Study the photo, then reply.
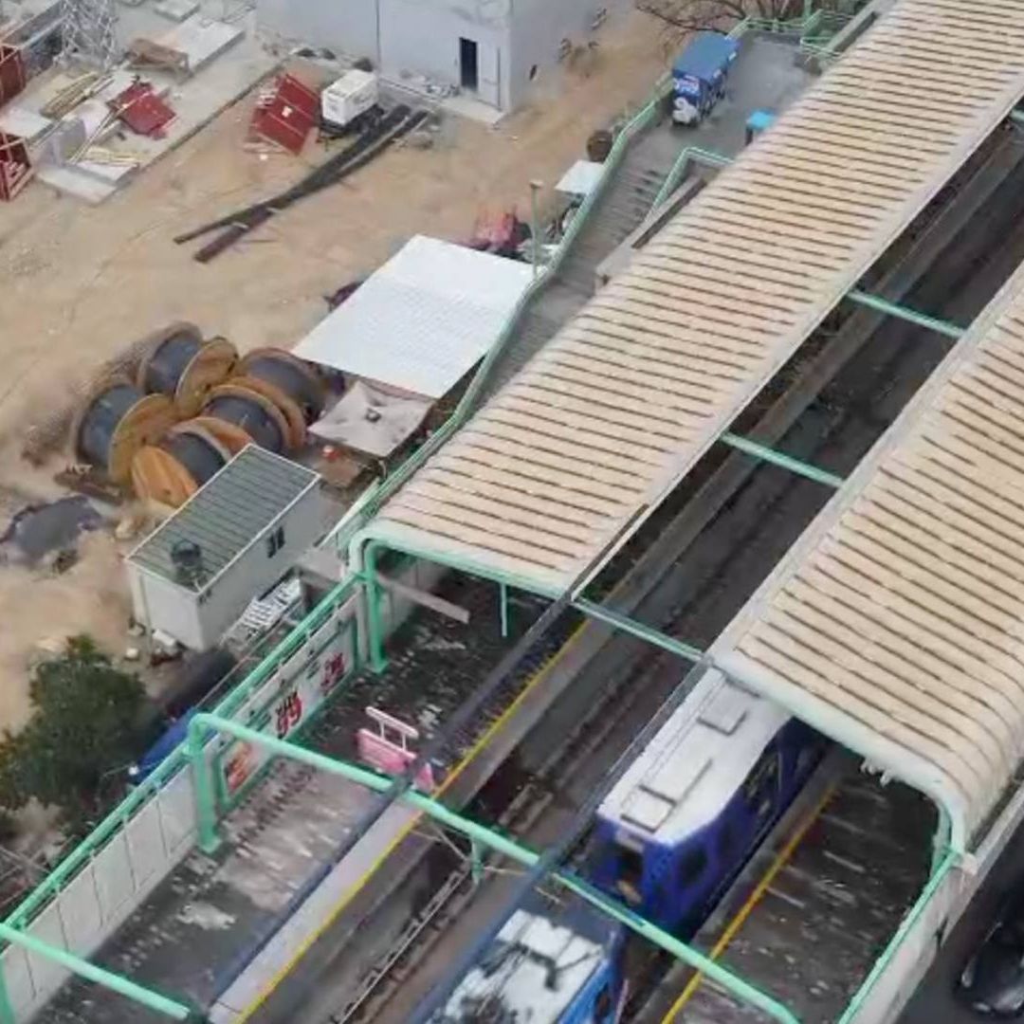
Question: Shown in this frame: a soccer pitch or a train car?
train car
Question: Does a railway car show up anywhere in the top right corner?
No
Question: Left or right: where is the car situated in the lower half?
right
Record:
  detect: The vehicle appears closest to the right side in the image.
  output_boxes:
[965,865,1024,1006]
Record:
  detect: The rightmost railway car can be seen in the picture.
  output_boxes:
[596,664,832,937]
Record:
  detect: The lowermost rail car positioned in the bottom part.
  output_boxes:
[419,885,625,1024]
